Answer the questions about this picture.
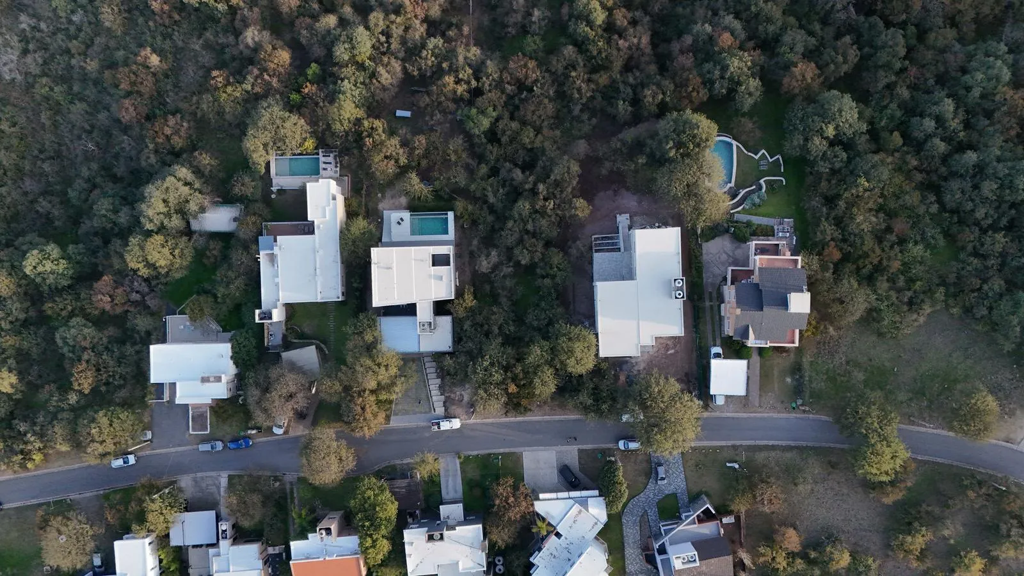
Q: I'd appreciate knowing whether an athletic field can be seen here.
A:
No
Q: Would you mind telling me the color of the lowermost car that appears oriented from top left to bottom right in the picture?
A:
black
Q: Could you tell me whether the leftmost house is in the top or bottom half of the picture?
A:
bottom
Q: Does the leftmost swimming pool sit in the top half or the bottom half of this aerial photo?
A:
top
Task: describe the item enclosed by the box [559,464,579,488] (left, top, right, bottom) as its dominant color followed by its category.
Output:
black car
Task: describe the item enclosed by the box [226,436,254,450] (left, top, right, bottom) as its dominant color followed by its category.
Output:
blue vehicle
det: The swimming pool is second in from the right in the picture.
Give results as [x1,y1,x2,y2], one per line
[382,210,455,248]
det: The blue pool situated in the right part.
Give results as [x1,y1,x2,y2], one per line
[707,133,736,193]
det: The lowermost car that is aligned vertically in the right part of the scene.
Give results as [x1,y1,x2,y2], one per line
[655,461,667,484]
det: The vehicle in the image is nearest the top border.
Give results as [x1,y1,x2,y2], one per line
[710,345,722,359]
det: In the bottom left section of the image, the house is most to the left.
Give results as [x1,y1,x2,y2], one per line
[93,526,165,576]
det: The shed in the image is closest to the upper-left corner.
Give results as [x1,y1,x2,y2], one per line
[190,205,243,232]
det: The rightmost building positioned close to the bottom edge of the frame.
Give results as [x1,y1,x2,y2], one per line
[650,494,734,576]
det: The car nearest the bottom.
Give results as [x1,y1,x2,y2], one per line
[91,551,105,574]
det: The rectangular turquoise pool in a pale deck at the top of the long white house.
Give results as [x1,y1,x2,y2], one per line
[271,149,341,190]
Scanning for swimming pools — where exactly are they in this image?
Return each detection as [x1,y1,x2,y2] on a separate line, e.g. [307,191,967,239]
[271,149,341,190]
[382,210,455,248]
[707,133,736,193]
